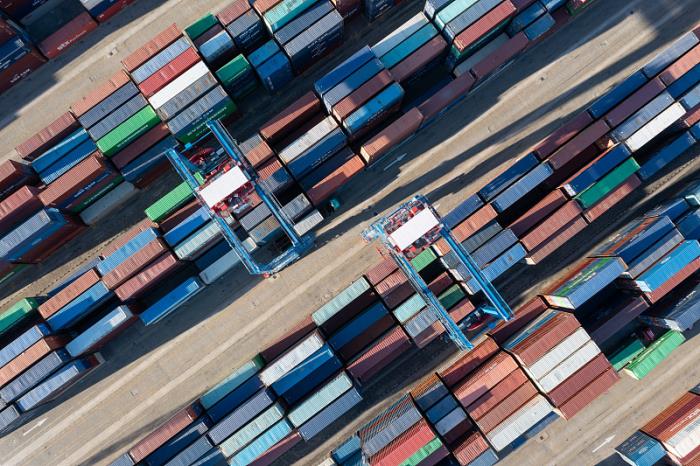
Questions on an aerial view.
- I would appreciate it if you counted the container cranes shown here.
two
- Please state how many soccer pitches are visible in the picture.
none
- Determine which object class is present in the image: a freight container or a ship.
freight container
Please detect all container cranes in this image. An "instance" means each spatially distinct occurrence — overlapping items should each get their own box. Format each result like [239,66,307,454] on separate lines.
[159,116,329,282]
[351,189,522,357]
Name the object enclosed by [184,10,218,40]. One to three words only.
shipping container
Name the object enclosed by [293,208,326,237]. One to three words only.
shipping container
